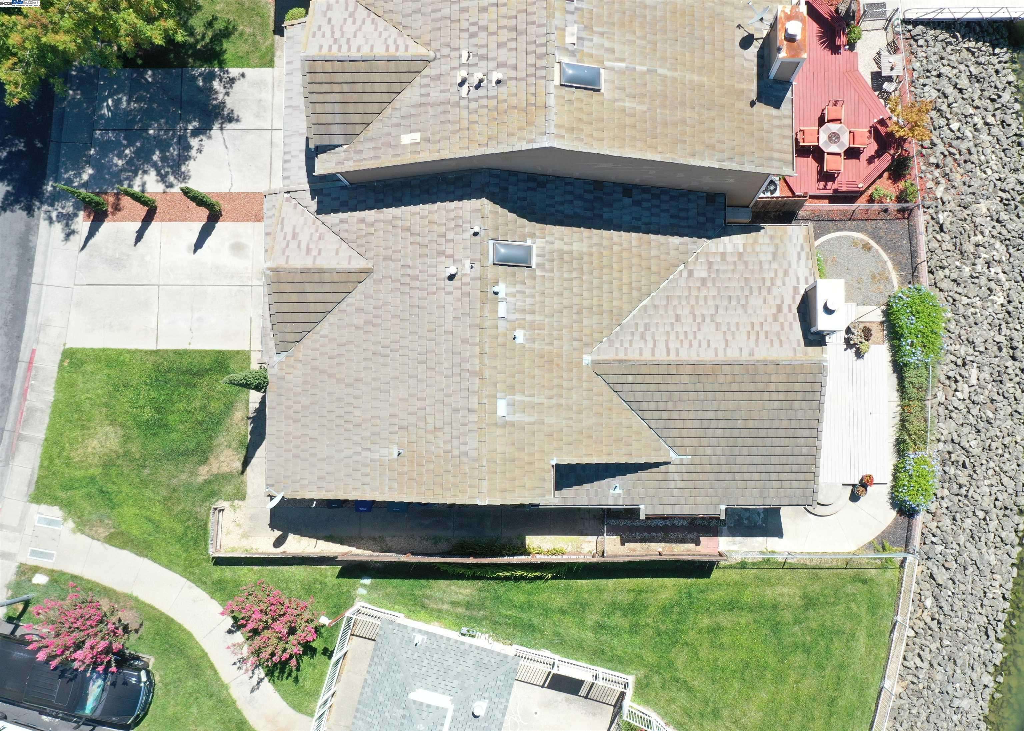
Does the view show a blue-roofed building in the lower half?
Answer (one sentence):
No, no blue-roofed building is visible in the lower half.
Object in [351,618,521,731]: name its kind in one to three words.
building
